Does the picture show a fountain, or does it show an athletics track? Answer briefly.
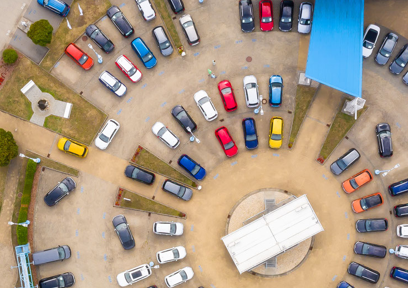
fountain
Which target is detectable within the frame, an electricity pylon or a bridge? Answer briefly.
electricity pylon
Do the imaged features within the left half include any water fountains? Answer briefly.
Yes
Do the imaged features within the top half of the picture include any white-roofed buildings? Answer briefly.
No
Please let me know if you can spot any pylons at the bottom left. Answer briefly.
No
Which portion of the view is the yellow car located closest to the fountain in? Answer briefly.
left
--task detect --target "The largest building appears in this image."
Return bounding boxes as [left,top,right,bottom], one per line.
[221,195,325,275]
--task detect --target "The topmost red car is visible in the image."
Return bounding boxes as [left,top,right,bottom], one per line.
[258,0,275,30]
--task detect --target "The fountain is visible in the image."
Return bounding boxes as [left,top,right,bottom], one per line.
[21,83,64,127]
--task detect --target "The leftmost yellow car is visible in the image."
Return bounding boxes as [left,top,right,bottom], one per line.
[57,137,89,159]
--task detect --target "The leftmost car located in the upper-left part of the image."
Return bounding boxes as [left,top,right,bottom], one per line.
[35,0,72,19]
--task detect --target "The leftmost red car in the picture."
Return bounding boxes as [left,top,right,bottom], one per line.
[65,41,93,71]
